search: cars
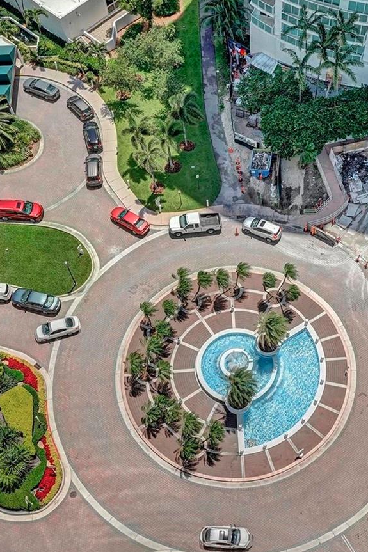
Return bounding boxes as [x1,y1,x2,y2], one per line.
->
[199,524,251,552]
[63,93,97,122]
[83,154,104,190]
[81,119,105,154]
[33,318,83,345]
[240,217,285,244]
[0,198,42,221]
[11,290,61,316]
[0,283,13,304]
[109,208,151,236]
[21,78,62,102]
